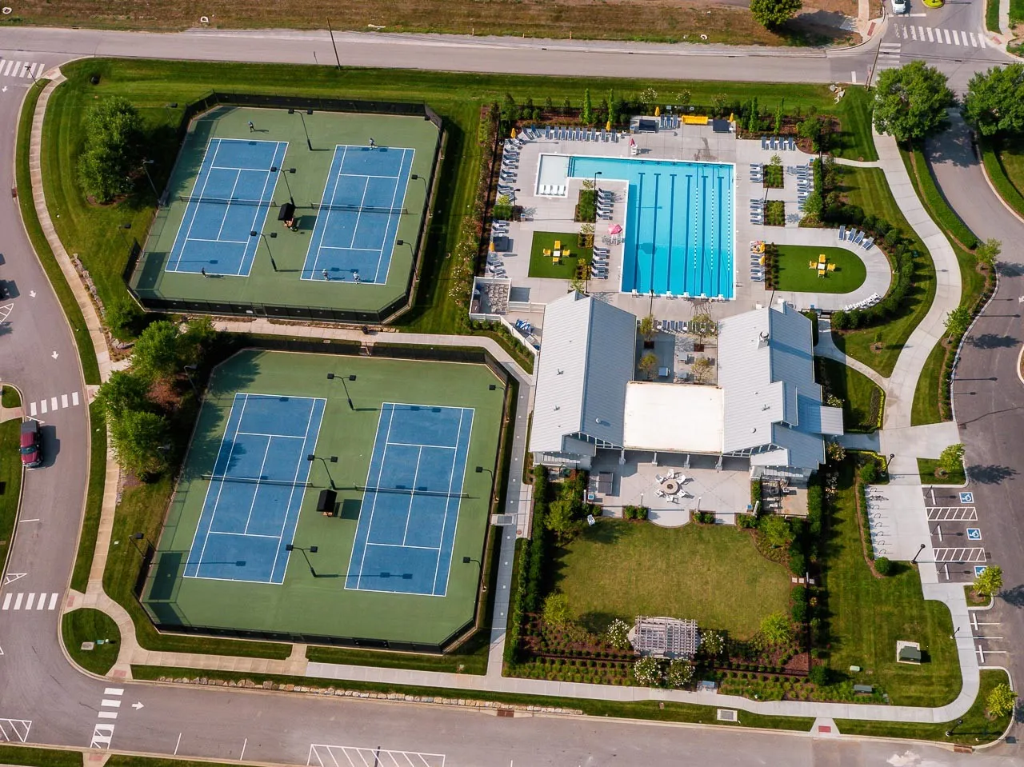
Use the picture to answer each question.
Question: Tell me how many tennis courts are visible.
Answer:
four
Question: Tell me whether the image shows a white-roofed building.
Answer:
Yes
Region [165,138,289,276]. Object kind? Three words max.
tennis court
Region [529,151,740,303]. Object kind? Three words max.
swimming pool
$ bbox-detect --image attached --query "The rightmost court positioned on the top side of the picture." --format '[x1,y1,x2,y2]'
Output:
[300,144,415,285]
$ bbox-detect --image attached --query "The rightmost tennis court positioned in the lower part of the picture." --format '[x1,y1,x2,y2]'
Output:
[344,402,475,597]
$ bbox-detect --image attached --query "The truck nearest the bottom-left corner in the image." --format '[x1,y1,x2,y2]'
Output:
[16,419,40,467]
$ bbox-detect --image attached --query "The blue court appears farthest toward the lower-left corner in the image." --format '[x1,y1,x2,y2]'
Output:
[183,393,326,585]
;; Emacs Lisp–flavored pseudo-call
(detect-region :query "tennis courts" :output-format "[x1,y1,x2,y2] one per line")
[300,144,415,285]
[165,138,289,276]
[183,393,326,585]
[344,402,475,597]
